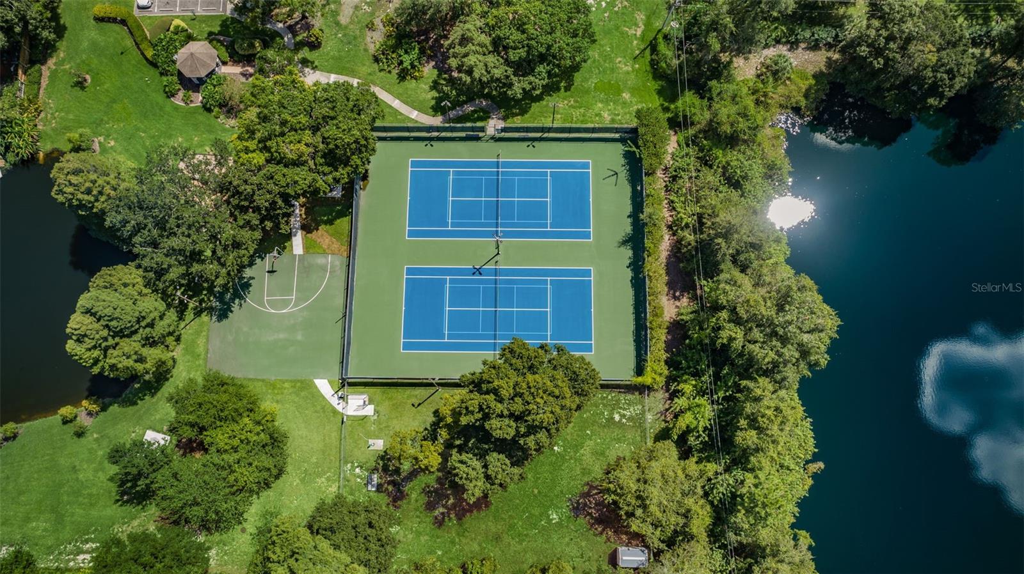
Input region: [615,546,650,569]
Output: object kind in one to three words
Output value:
shed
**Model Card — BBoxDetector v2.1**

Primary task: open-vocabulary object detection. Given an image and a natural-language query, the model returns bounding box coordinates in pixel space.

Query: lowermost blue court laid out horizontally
[402,266,593,353]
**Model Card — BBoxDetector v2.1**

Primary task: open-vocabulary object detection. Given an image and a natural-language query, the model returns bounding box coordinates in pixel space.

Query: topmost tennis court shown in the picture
[407,159,591,240]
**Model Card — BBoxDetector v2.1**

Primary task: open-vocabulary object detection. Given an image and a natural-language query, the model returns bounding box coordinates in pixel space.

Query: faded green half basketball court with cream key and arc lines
[207,254,348,379]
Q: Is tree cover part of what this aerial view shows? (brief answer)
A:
Yes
